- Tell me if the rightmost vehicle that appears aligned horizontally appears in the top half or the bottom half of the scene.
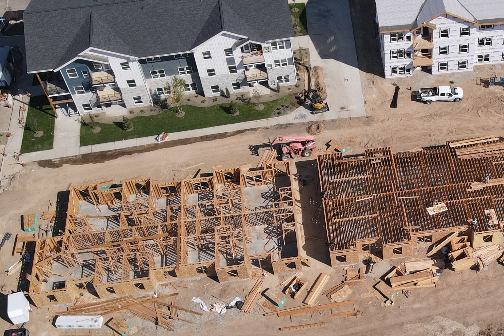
top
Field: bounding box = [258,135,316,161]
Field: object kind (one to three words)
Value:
work vehicle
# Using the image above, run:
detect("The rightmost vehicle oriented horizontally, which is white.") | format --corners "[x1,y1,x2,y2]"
[417,83,463,103]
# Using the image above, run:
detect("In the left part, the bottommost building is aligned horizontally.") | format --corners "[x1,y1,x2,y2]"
[27,160,303,308]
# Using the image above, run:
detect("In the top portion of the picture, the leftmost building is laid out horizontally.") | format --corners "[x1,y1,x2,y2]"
[20,0,298,120]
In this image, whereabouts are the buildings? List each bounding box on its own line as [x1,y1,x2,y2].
[20,0,298,120]
[372,0,504,79]
[27,160,303,308]
[316,137,504,267]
